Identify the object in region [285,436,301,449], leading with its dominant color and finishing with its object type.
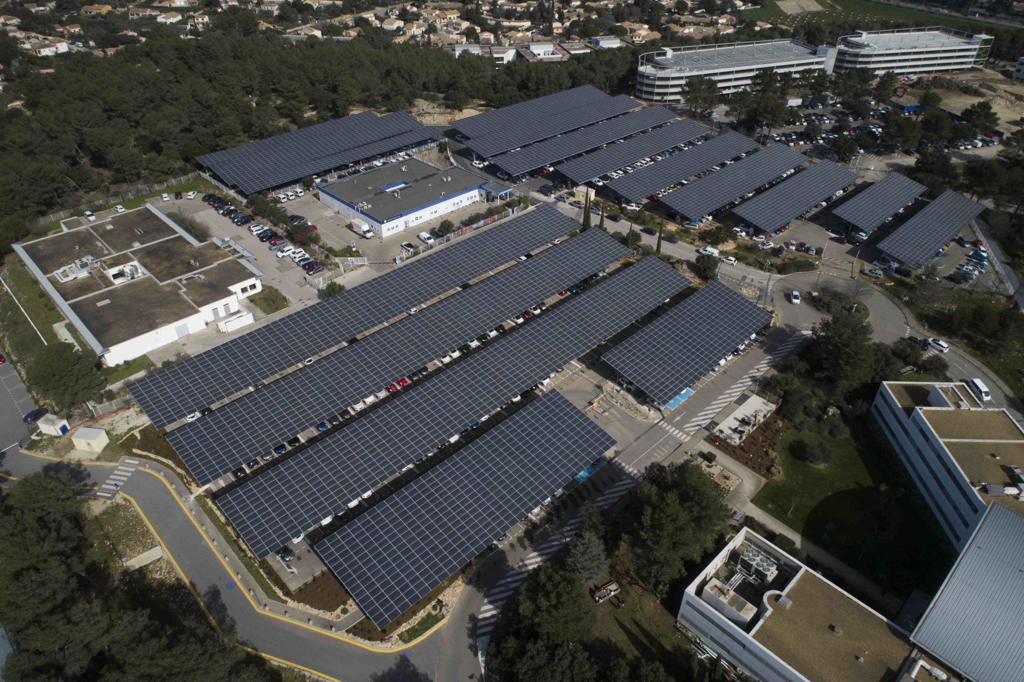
black vehicle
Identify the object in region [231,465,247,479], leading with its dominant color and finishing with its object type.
black car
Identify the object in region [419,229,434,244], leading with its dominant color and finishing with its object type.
white vehicle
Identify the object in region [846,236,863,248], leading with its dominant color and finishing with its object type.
black vehicle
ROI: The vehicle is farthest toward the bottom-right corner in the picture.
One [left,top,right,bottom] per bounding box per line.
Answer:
[969,377,991,400]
